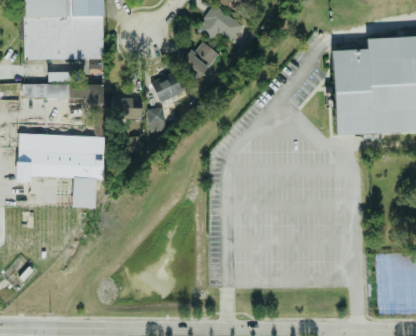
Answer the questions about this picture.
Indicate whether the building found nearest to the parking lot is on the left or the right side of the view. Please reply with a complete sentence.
The building found nearest to the parking lot appears in the right half of the scene.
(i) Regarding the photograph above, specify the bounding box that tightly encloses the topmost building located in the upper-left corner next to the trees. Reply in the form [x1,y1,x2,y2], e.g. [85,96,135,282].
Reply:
[24,0,104,60]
